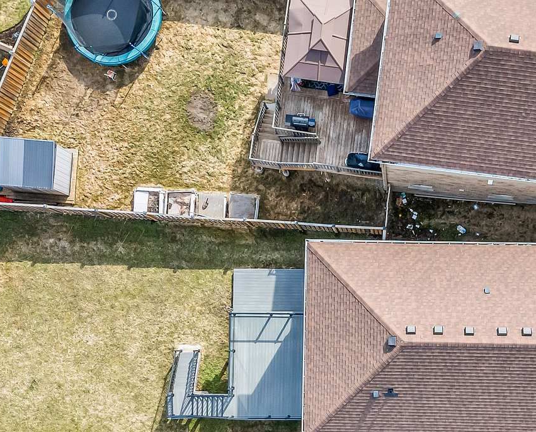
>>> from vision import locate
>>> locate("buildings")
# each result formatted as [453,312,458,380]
[300,237,536,432]
[0,137,79,203]
[342,0,536,211]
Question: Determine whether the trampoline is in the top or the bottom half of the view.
top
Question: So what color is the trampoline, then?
blue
